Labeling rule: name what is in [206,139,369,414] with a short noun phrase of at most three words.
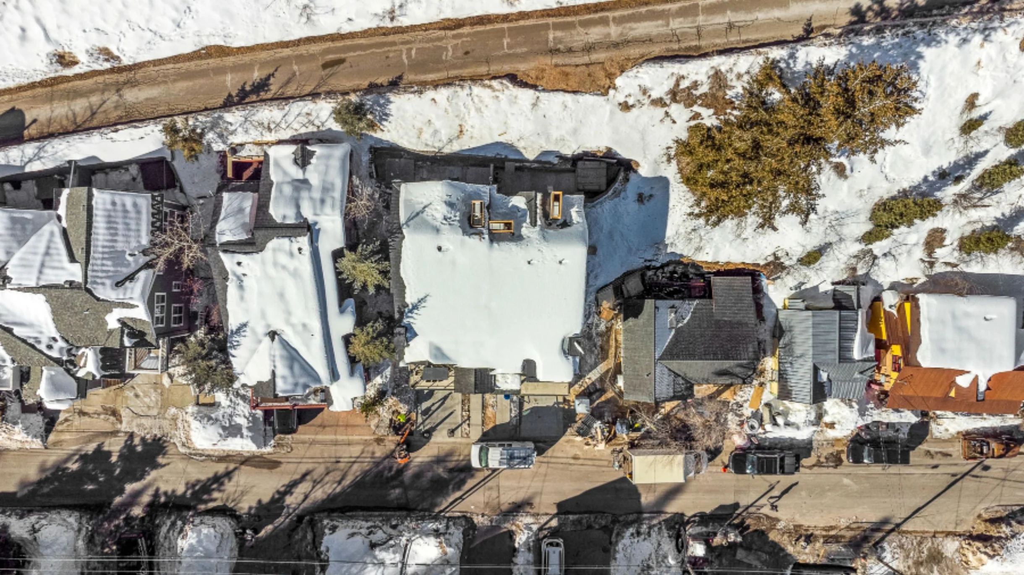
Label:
house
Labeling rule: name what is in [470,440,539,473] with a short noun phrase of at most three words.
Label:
van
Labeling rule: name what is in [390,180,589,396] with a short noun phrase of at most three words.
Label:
house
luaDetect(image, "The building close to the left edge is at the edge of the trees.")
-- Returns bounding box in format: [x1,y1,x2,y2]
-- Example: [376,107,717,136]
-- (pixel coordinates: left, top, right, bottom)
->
[0,162,193,413]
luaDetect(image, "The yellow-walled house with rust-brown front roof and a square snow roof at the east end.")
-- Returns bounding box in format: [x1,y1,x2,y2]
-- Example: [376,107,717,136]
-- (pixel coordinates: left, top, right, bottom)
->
[865,288,1024,416]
